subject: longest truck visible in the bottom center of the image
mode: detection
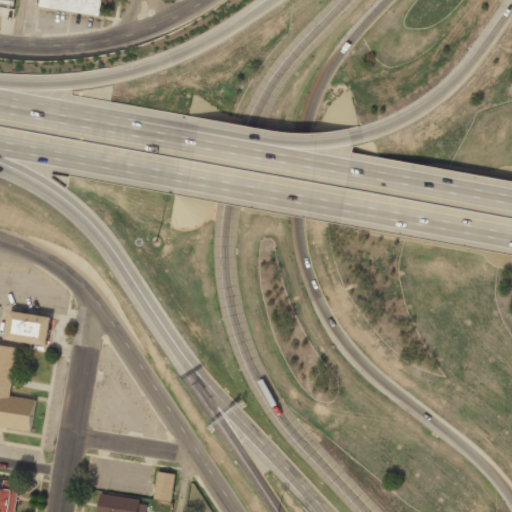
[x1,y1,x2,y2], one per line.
[260,382,282,416]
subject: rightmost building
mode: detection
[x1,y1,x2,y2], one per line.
[154,471,176,506]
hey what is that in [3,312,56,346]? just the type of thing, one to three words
building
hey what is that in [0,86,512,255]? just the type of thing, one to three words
overpass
